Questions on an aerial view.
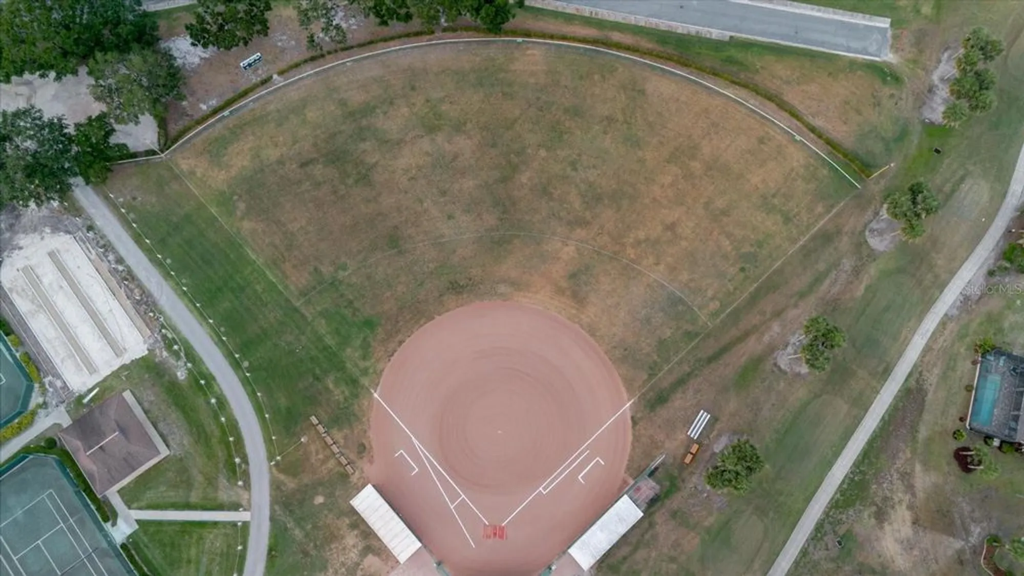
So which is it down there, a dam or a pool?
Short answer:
pool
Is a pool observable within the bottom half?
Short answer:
Yes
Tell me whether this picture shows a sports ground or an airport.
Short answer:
sports ground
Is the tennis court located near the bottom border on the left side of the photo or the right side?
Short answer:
left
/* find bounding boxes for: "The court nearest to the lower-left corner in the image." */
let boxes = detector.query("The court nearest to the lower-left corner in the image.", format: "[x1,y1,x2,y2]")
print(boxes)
[0,458,123,576]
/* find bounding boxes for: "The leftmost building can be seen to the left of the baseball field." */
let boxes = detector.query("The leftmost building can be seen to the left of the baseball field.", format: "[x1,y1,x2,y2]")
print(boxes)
[58,389,170,497]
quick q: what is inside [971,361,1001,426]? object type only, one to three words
swimming pool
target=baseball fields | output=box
[164,47,862,576]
